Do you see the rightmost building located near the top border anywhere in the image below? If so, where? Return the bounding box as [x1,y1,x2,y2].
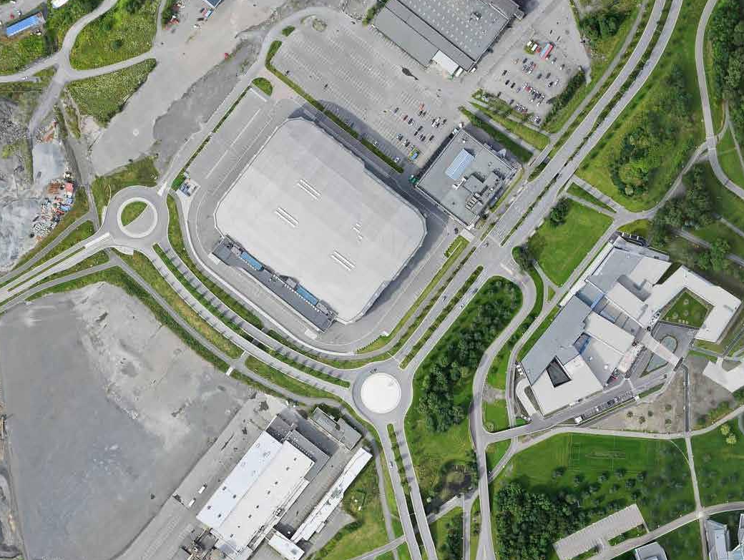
[374,0,526,74]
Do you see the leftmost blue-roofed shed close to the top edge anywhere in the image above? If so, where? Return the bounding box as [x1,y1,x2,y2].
[6,13,46,37]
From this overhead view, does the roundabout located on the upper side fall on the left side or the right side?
left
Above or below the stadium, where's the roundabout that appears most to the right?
below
